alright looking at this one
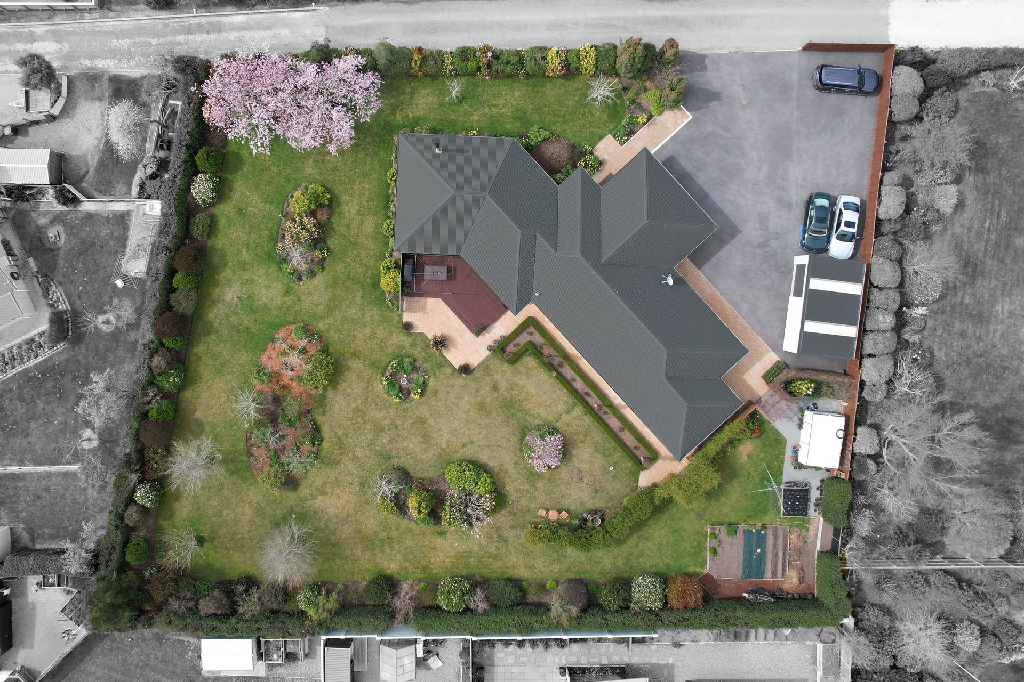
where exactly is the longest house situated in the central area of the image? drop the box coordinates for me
[392,131,752,463]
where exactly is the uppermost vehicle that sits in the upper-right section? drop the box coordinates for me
[805,64,877,99]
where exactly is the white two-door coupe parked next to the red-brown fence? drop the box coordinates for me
[824,195,858,260]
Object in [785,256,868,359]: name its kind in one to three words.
building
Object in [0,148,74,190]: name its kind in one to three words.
shed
